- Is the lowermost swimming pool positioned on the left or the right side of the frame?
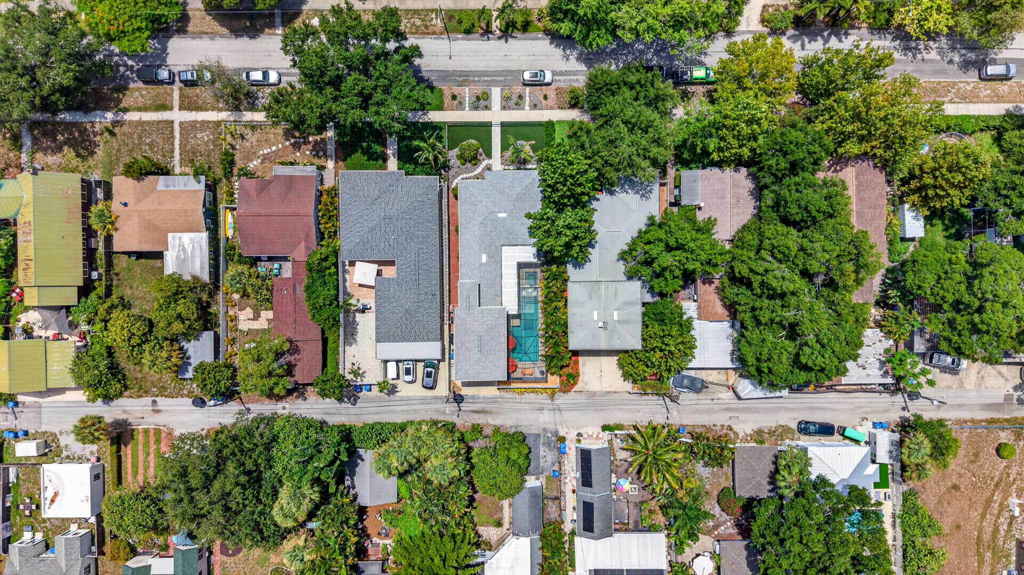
right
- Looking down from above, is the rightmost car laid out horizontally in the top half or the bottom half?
top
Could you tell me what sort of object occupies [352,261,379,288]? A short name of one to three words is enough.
umbrella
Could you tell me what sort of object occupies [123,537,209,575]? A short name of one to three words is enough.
building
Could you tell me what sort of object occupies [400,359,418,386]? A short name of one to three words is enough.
car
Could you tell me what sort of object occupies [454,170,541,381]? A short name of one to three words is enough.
house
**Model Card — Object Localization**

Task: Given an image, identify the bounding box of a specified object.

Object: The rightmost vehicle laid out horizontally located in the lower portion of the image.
[924,352,964,372]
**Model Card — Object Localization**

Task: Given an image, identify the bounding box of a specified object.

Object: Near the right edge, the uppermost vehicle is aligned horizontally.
[976,62,1014,82]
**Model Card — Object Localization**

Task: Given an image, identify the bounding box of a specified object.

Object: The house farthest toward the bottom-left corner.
[9,527,100,575]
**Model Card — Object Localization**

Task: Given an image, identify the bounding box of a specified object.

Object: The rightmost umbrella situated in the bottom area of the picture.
[692,554,713,575]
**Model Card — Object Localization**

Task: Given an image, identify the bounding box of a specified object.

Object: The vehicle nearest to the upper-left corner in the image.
[136,66,175,85]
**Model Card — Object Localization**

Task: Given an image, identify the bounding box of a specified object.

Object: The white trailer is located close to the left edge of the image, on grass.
[16,436,60,456]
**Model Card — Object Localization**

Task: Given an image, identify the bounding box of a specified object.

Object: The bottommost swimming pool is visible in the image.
[843,507,886,534]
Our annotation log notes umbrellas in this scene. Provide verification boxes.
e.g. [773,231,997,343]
[352,261,379,288]
[692,554,713,575]
[506,336,517,351]
[507,357,519,374]
[615,476,630,491]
